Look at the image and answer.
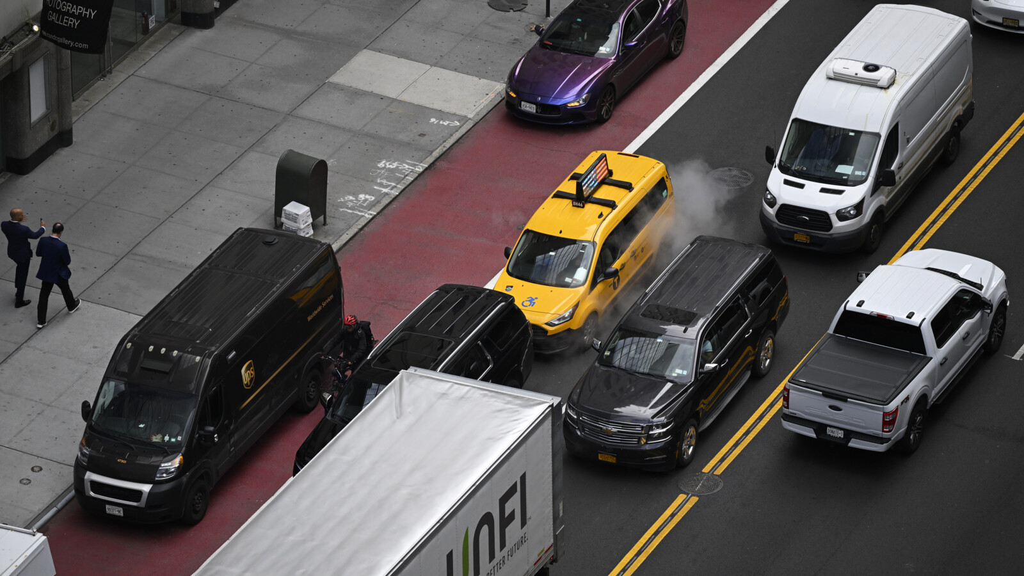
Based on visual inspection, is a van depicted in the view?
Yes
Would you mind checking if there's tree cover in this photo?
No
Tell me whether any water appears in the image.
No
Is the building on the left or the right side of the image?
left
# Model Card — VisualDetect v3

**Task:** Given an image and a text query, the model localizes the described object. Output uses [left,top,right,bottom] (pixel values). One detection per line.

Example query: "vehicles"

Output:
[501,0,689,131]
[779,249,1015,454]
[491,148,681,354]
[73,226,343,528]
[299,284,536,466]
[565,239,791,476]
[976,0,1024,40]
[0,518,59,576]
[756,14,973,260]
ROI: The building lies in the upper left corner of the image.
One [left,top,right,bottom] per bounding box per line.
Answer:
[0,0,230,174]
